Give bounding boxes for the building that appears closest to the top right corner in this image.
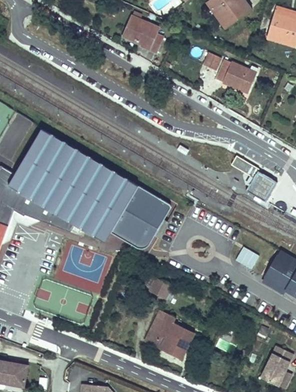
[268,5,296,48]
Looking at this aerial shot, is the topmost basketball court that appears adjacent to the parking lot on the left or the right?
left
